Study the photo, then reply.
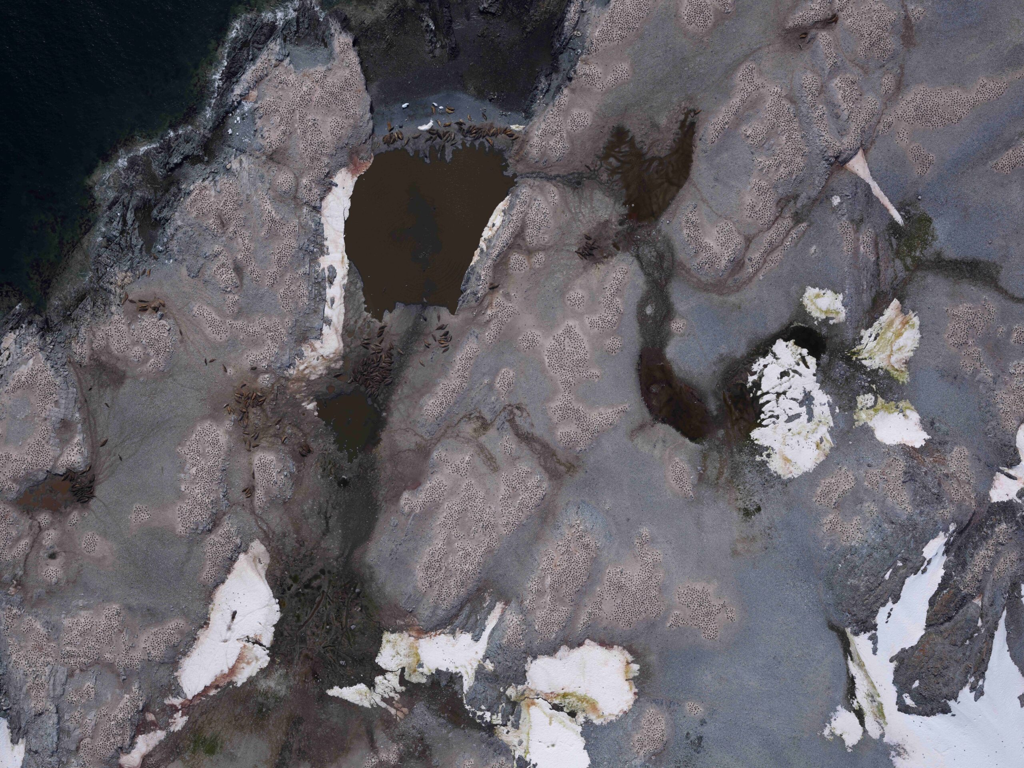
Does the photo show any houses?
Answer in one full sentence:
No, the frame has no house in it.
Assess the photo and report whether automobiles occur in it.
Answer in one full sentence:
No, the scene contains no automobile.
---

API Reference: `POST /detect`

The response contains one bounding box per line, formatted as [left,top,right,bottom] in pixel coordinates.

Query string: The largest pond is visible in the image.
[344,142,517,320]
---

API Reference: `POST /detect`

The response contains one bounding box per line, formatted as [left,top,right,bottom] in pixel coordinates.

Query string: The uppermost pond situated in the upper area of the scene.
[608,114,694,220]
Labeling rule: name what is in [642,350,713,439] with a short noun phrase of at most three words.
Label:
pond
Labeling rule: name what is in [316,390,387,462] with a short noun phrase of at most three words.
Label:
pond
